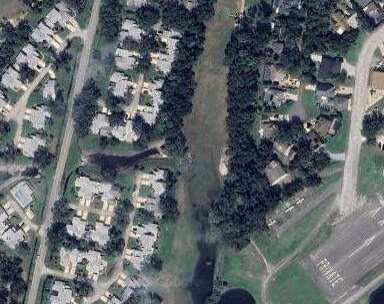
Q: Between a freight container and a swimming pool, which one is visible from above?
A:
swimming pool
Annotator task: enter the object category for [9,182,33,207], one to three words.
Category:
swimming pool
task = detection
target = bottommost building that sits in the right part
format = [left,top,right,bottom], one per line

[263,157,290,186]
